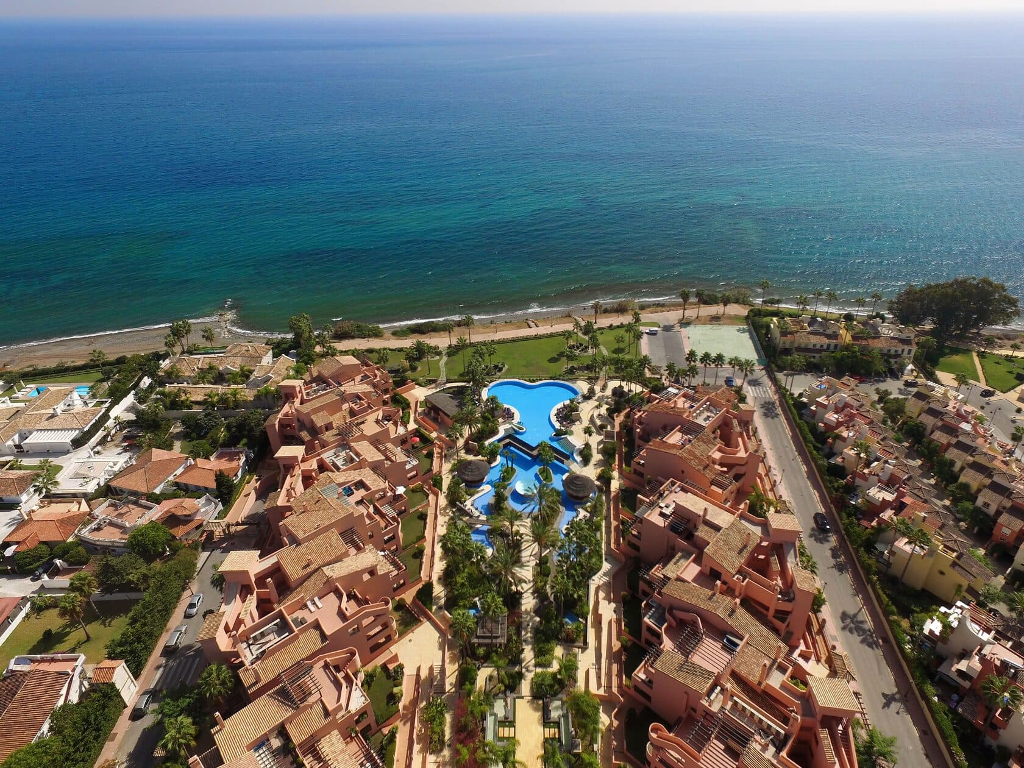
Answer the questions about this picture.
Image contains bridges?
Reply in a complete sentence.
Yes, there's a bridge down there.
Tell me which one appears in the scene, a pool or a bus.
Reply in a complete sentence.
Visible in the photo is a pool.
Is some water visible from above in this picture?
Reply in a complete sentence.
Yes, the picture does contain water.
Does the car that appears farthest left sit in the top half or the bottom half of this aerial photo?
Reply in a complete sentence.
The car that appears farthest left is in the bottom half of the image.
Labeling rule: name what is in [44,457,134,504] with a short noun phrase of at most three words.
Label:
house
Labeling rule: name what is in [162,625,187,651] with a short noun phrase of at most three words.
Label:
car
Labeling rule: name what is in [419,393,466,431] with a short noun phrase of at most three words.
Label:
building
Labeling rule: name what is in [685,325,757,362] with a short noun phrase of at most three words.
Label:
sports court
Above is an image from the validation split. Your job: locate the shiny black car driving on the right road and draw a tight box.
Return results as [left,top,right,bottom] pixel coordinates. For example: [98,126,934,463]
[814,514,831,532]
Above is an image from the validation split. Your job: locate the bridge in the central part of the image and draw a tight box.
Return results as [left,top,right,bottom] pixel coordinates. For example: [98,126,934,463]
[494,432,584,472]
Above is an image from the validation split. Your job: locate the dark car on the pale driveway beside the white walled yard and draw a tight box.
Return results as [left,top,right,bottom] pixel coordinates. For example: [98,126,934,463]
[28,559,55,579]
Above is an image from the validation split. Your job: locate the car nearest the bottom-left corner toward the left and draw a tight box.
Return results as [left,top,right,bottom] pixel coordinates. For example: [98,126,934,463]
[128,692,154,720]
